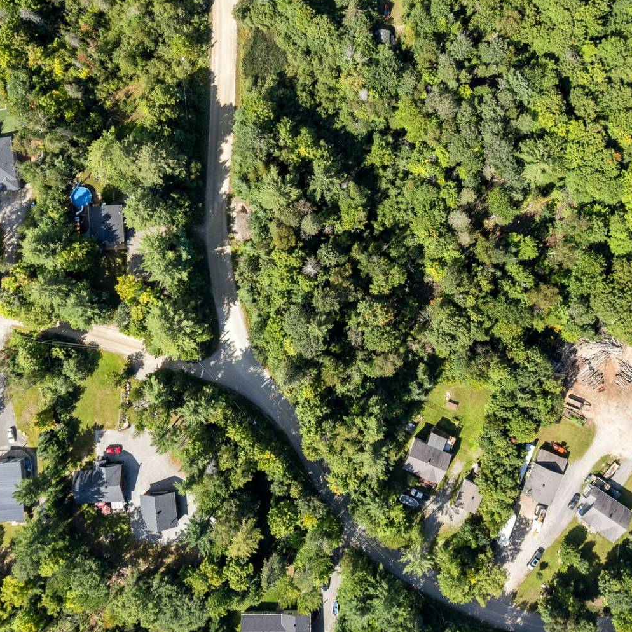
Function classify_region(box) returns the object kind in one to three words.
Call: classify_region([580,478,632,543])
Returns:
house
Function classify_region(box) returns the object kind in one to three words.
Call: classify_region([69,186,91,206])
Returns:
swimming pool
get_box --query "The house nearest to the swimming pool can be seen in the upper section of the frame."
[80,204,126,250]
